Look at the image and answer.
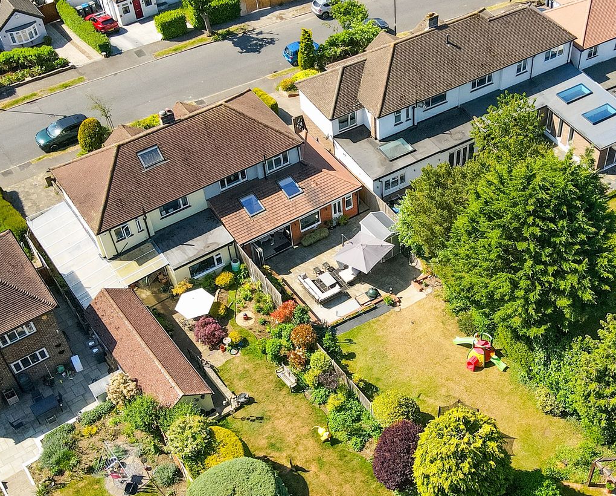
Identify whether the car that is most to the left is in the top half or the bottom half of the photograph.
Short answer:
top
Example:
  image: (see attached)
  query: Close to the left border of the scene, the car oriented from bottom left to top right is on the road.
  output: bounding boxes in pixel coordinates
[31,107,90,151]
